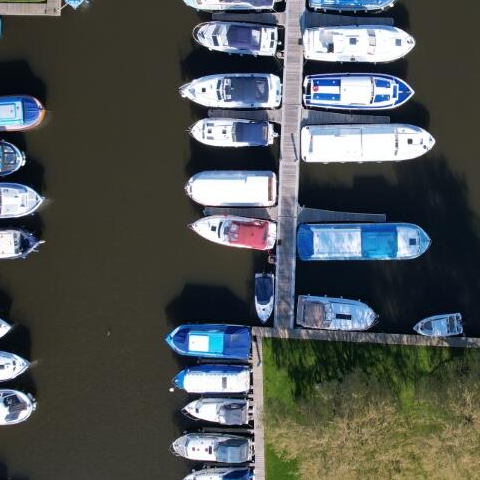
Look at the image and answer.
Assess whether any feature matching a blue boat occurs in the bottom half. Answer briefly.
Yes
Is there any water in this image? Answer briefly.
Yes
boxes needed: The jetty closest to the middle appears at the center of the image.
[204,208,278,221]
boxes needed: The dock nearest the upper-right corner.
[306,10,394,28]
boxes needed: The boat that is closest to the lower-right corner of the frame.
[413,313,466,337]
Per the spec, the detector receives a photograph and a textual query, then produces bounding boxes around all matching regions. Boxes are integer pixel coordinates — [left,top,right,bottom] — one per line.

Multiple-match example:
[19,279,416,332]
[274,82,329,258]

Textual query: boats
[297,74,414,110]
[0,349,32,380]
[169,364,256,396]
[166,322,259,360]
[291,293,380,330]
[189,0,282,12]
[413,313,466,337]
[0,184,46,218]
[0,231,41,261]
[296,25,415,65]
[182,171,285,207]
[0,388,38,428]
[187,118,283,149]
[178,73,290,109]
[0,141,26,178]
[255,269,274,323]
[182,395,253,425]
[186,213,284,250]
[167,431,255,464]
[294,125,435,164]
[0,97,46,132]
[291,221,434,261]
[189,21,286,58]
[184,464,255,480]
[303,0,395,15]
